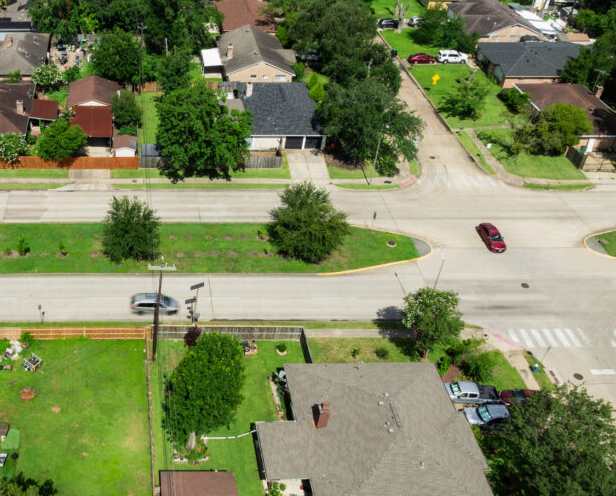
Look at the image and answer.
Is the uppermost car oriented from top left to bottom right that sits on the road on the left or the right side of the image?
right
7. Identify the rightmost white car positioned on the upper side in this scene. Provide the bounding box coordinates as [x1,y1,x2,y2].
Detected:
[438,50,466,62]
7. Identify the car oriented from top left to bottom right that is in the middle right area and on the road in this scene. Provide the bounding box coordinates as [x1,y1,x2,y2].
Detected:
[473,225,509,251]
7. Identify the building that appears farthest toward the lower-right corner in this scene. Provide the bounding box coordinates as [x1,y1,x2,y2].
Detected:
[256,362,481,496]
